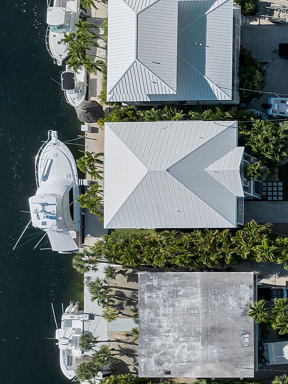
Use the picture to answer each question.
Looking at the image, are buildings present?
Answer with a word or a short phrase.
Yes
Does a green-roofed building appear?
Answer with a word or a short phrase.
No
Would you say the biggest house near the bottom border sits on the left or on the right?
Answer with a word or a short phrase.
right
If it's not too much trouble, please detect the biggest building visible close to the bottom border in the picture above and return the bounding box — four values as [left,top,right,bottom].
[138,272,265,378]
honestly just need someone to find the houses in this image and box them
[107,0,249,109]
[104,120,271,228]
[138,272,265,378]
